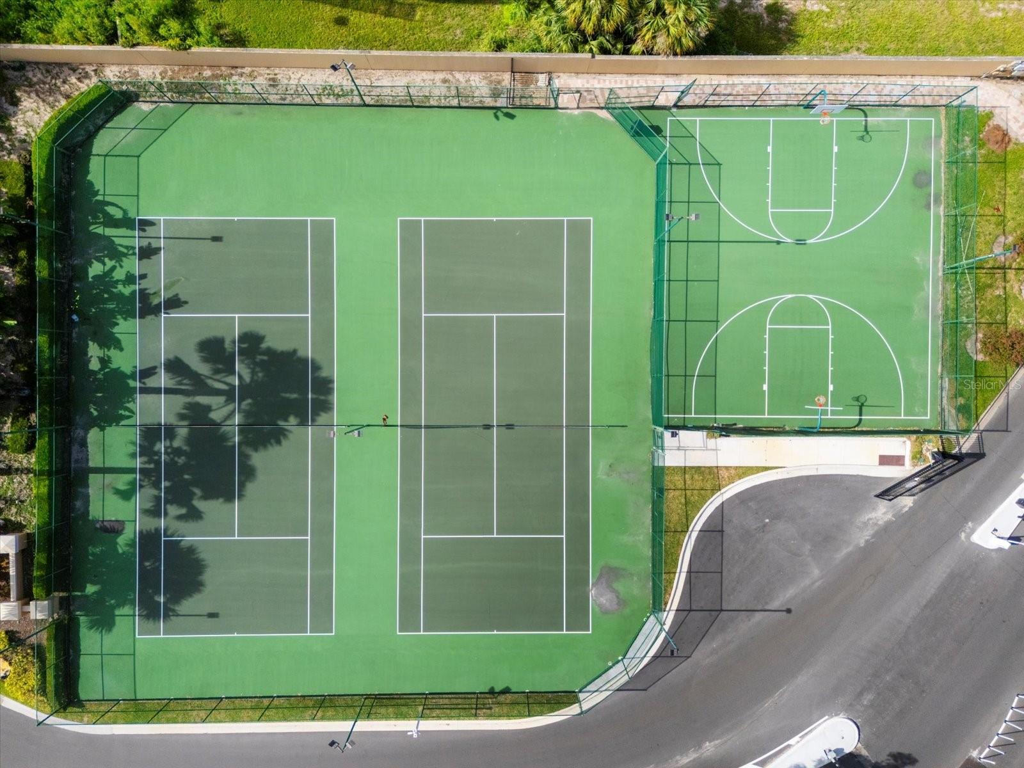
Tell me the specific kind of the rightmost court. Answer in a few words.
basketball court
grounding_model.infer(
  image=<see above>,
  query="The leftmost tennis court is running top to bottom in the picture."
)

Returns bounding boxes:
[136,218,335,637]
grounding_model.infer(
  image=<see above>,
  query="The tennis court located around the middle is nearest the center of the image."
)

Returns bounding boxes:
[397,218,592,634]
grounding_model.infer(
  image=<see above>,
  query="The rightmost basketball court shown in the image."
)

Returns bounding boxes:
[661,110,938,424]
